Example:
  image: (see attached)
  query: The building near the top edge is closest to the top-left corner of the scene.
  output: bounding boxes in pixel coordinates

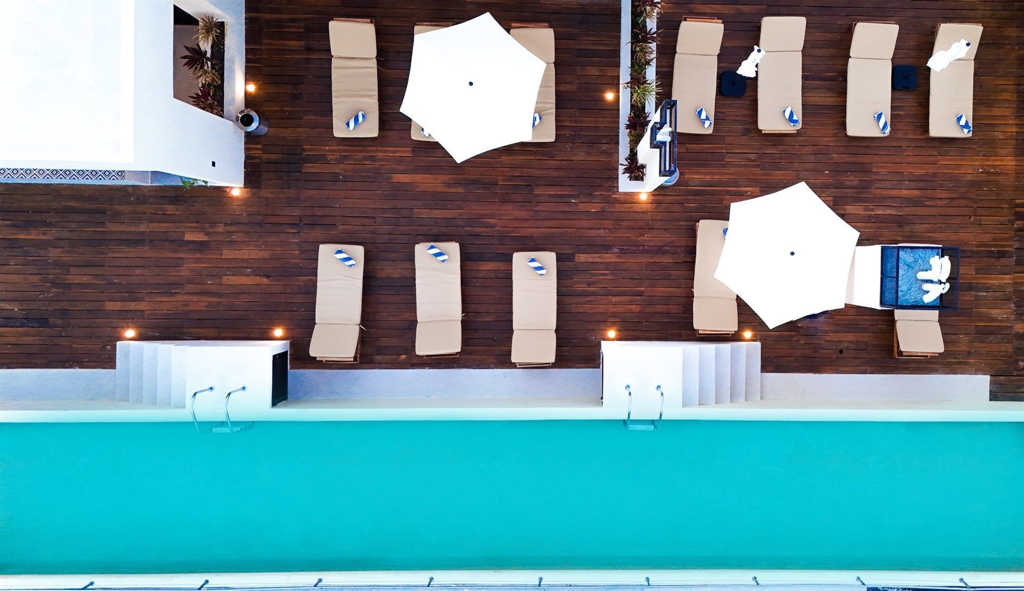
[0,0,244,185]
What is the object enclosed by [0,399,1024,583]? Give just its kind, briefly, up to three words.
swimming pool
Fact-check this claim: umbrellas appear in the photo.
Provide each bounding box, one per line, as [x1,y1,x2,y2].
[400,11,547,163]
[720,48,762,96]
[892,42,970,90]
[714,181,860,329]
